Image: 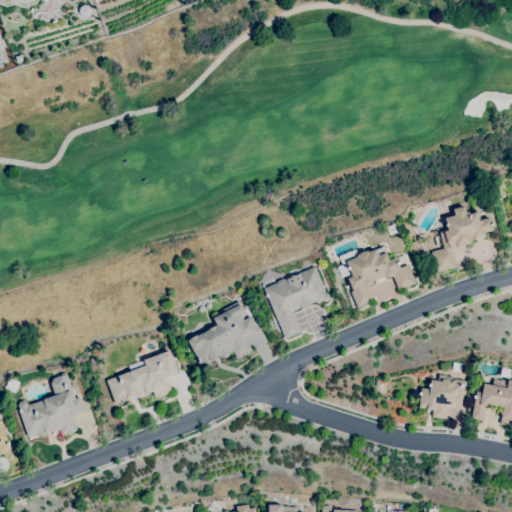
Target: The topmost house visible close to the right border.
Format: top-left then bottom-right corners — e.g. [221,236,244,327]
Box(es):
[432,204,499,274]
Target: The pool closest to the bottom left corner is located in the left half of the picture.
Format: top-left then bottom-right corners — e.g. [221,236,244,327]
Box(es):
[26,385,48,400]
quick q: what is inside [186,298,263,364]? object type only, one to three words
house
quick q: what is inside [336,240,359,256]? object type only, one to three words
swimming pool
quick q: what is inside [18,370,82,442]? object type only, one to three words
house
